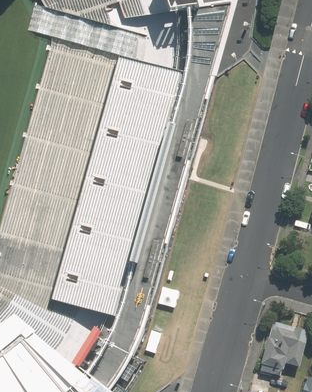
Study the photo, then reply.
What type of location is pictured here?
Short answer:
sports ground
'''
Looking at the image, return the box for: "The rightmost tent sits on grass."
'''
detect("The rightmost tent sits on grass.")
[158,286,180,308]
